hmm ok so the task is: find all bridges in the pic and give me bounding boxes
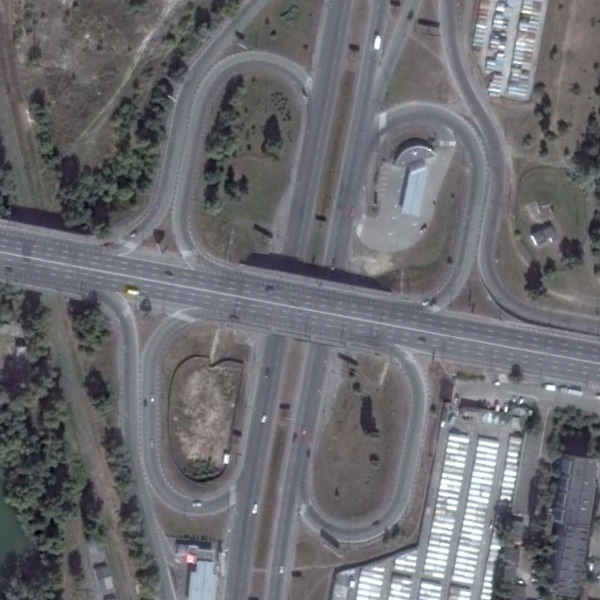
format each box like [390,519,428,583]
[0,219,600,385]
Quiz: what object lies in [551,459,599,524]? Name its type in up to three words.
building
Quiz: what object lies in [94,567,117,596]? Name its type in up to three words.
shed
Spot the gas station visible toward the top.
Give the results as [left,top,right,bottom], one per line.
[396,146,436,217]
